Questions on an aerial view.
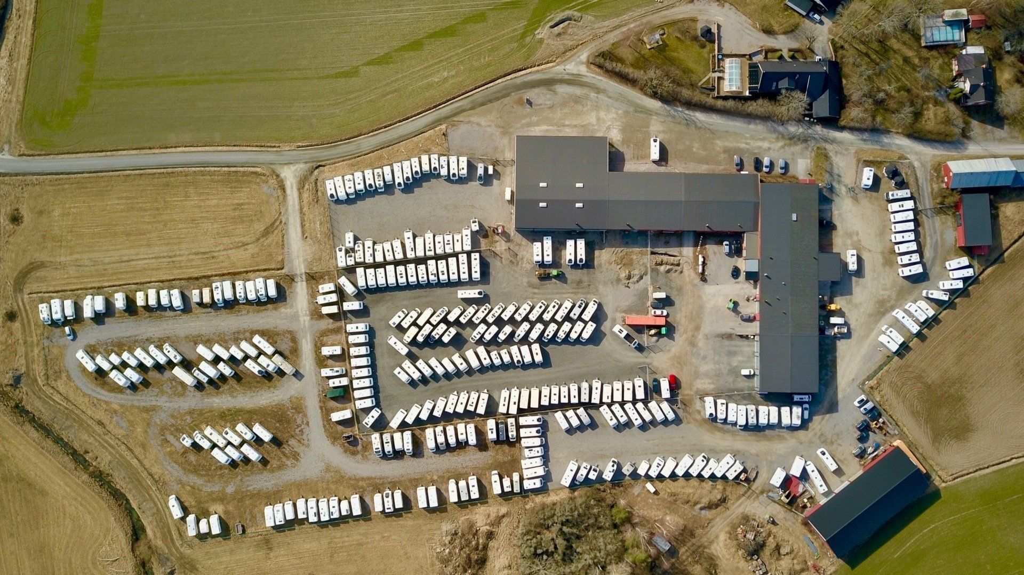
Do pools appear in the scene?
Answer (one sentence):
Yes, you can see a pool in this photo.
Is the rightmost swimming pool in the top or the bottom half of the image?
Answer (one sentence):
The rightmost swimming pool is in the top half of the image.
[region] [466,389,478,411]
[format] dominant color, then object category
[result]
white vehicle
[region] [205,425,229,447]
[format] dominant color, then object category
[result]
white camper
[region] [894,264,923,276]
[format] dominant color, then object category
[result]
white vehicle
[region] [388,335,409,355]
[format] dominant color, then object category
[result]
white camper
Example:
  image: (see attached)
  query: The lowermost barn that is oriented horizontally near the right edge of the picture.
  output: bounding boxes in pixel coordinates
[943,158,1016,188]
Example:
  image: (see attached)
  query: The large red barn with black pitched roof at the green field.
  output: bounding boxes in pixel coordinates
[806,440,930,558]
